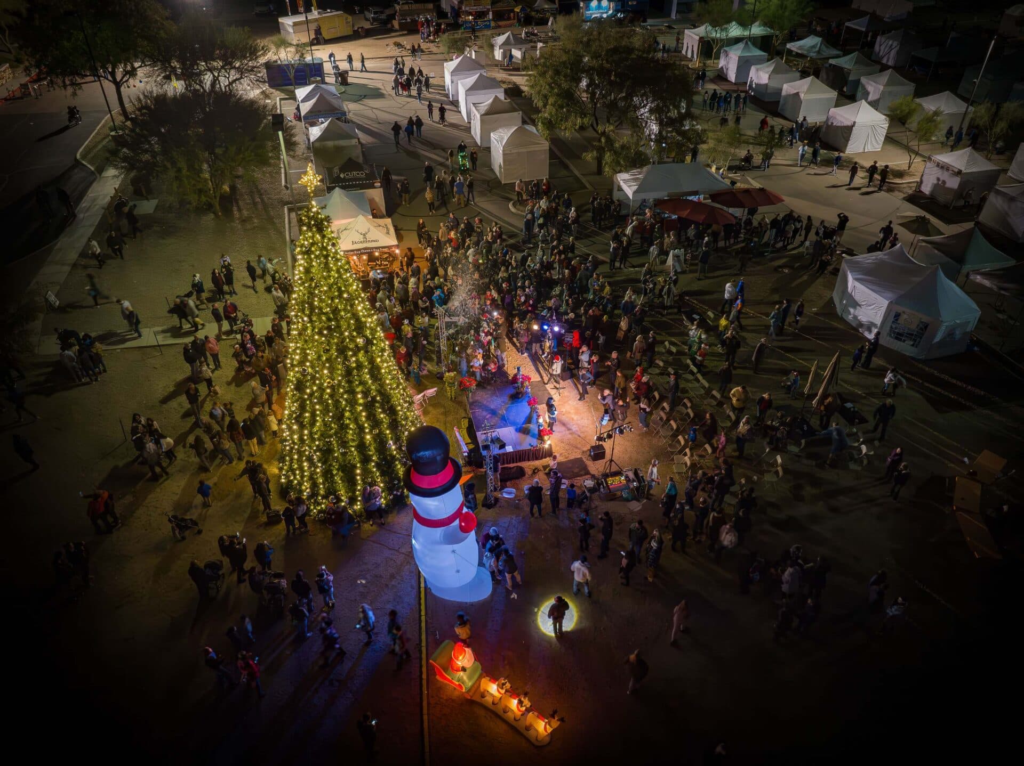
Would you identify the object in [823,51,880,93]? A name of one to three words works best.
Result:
tent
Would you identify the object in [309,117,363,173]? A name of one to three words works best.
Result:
tent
